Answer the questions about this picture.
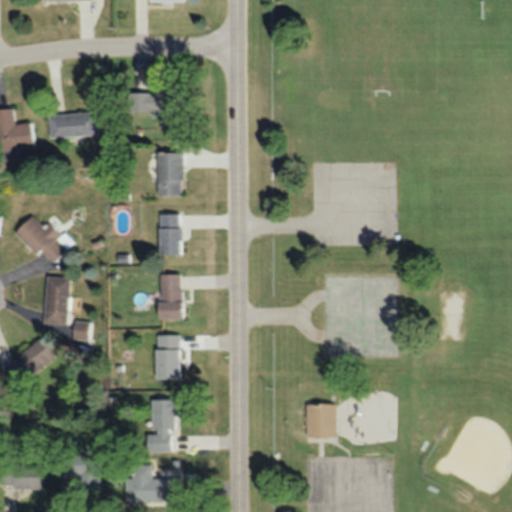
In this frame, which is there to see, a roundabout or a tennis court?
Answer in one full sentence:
Of the two, only a tennis court appears.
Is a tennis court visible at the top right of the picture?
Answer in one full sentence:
No, I can find no tennis court at the top right of the picture.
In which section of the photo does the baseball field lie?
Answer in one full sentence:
The baseball field appears toward the bottom right of the photo.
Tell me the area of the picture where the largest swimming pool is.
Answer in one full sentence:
Look in the left portion of the view to spot the largest swimming pool.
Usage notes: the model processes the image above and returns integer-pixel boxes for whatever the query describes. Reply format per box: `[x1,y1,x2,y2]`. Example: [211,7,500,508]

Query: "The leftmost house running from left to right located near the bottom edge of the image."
[2,476,44,490]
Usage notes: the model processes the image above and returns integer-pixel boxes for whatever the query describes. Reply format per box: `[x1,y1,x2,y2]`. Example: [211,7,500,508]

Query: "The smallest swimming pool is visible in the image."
[132,292,149,307]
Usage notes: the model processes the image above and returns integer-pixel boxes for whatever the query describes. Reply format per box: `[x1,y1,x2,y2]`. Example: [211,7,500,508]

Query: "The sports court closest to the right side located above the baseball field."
[440,292,465,340]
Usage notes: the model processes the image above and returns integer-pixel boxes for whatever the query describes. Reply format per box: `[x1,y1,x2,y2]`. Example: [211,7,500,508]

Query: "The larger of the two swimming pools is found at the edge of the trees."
[112,206,134,236]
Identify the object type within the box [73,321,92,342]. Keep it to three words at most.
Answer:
building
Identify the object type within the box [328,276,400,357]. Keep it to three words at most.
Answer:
tennis court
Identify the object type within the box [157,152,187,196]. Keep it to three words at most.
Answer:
house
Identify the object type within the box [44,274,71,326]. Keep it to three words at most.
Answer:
house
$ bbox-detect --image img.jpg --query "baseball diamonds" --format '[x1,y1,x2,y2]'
[435,416,512,495]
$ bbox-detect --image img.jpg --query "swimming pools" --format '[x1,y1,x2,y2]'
[132,292,149,307]
[112,206,134,236]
